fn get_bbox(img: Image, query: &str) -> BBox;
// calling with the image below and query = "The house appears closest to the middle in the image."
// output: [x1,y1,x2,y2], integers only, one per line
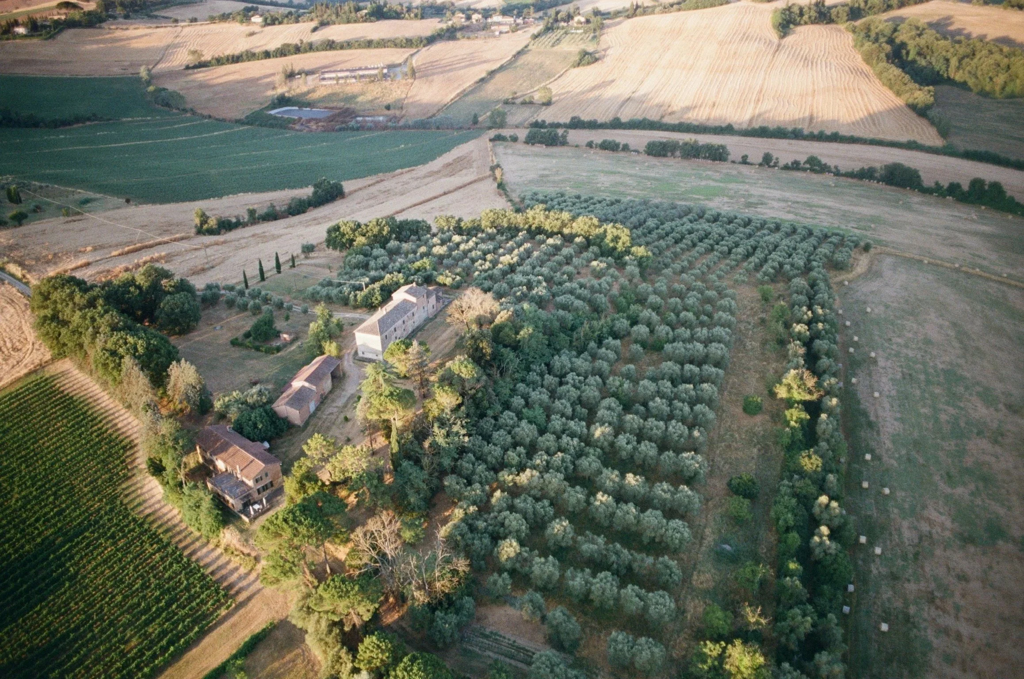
[353,276,457,363]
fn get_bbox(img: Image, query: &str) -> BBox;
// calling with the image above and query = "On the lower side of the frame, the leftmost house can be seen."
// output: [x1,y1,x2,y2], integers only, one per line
[197,422,284,524]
